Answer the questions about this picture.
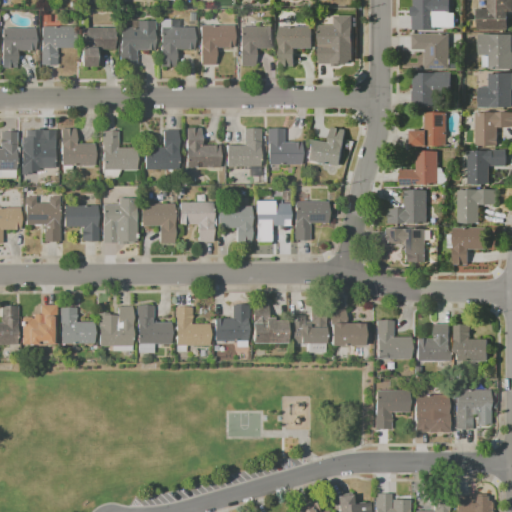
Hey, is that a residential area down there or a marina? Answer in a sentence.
The picture captures a residential area.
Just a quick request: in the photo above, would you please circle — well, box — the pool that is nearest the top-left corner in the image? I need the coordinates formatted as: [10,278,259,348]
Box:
[12,14,32,26]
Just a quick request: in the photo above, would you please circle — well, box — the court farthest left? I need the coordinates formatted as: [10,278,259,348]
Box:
[226,410,262,439]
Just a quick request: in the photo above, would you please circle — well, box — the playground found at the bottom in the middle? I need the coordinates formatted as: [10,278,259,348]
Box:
[282,396,310,431]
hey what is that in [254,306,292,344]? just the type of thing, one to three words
house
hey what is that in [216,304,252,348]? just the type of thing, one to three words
house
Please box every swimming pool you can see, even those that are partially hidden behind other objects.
[12,14,32,26]
[448,112,460,136]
